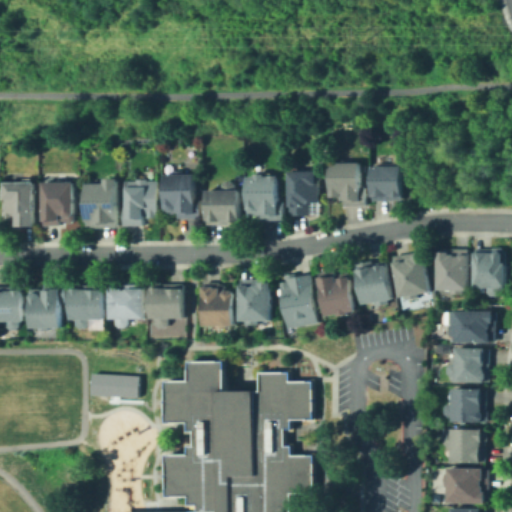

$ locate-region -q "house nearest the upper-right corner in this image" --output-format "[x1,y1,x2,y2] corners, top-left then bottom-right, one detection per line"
[366,166,401,201]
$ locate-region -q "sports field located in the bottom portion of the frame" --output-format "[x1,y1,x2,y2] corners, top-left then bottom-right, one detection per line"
[0,354,84,444]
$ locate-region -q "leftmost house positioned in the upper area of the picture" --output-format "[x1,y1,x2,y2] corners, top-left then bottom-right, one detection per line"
[1,182,36,226]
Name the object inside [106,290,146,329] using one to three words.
house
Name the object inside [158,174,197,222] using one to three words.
house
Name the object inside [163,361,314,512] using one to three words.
building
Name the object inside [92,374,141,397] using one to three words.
shed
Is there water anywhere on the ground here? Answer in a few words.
No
